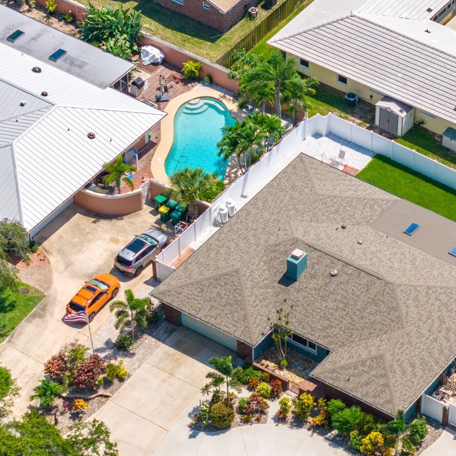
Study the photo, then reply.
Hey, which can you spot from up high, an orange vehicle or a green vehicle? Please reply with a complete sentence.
It is an orange vehicle that can be seen here.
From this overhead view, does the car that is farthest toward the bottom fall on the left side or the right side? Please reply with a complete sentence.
The car that is farthest toward the bottom is on the left side of the image.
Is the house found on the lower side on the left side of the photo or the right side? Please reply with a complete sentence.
The house found on the lower side is on the right side of the image.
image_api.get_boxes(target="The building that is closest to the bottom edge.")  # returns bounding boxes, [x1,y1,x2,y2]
[150,152,456,444]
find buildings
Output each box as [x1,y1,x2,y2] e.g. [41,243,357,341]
[150,152,456,444]
[153,0,262,34]
[0,2,168,248]
[268,0,456,142]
